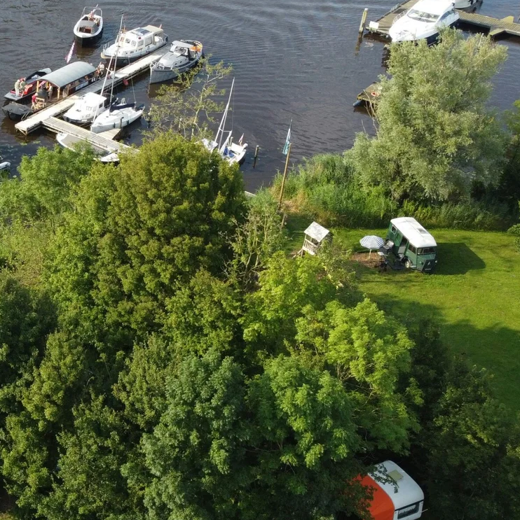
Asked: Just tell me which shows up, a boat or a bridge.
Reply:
boat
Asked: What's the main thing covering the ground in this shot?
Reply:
trees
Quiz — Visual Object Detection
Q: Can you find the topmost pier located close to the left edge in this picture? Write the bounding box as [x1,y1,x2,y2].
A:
[11,53,166,140]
